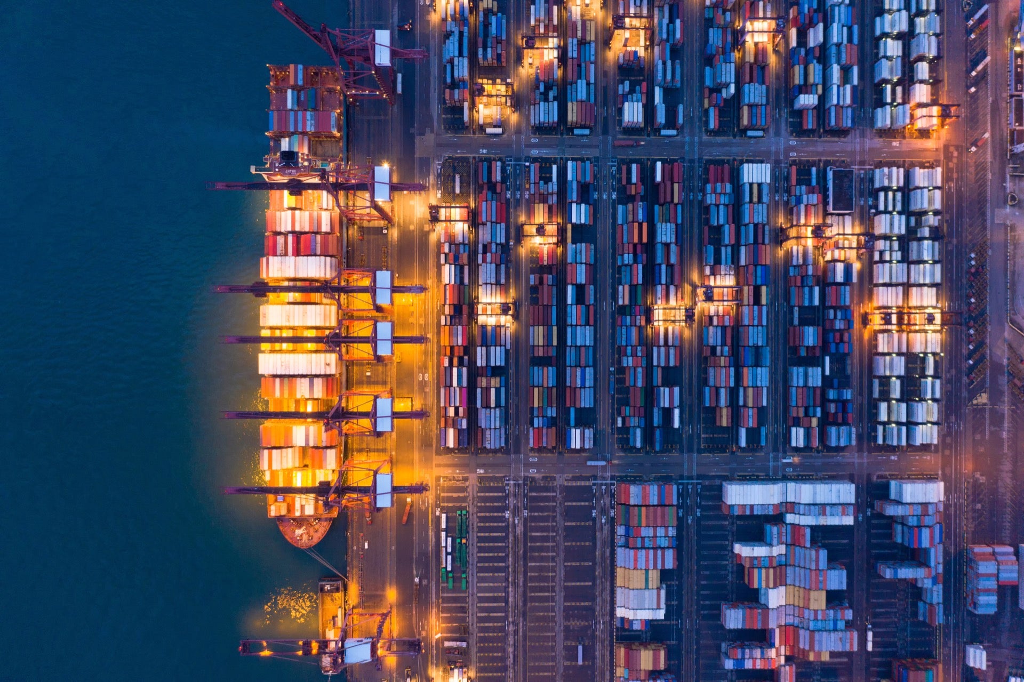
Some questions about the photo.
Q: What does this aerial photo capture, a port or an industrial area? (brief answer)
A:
port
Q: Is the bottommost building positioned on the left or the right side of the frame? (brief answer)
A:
right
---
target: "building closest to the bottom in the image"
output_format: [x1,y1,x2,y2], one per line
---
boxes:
[826,169,855,213]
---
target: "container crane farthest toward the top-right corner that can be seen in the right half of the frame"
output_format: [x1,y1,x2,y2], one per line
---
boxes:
[899,102,956,131]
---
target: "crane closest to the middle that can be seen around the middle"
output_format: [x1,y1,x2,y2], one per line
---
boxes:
[475,299,518,321]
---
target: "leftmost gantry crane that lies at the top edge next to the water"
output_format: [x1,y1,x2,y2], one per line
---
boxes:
[275,1,434,98]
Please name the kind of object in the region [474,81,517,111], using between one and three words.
container crane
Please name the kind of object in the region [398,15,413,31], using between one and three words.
work vehicle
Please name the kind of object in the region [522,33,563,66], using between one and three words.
container crane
